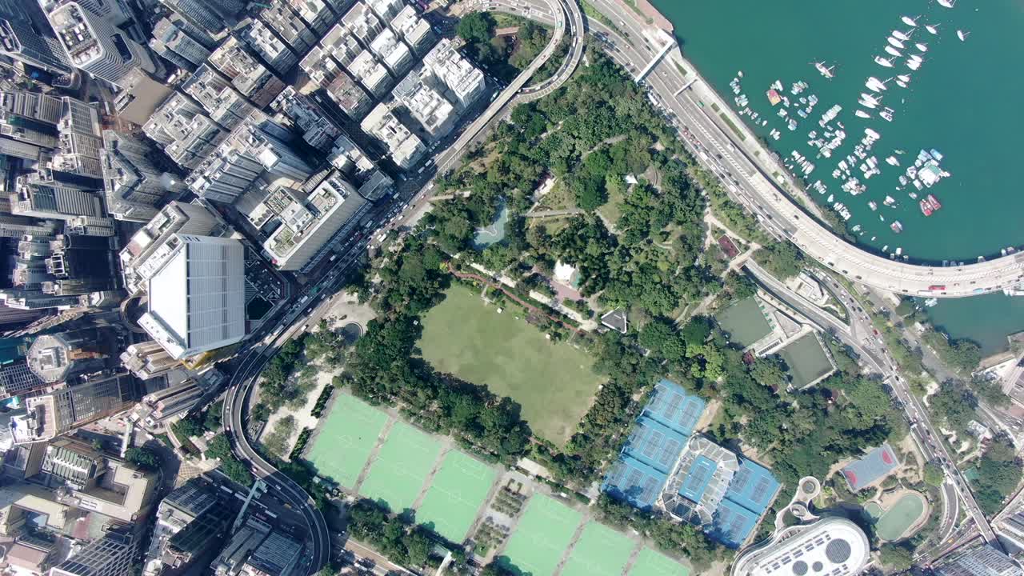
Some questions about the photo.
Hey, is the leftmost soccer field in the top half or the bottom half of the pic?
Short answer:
bottom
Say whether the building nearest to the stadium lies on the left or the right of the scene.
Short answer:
right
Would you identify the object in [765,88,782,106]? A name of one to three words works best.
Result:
ship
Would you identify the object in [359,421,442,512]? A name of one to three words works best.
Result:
soccer field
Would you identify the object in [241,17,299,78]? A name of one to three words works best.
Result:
building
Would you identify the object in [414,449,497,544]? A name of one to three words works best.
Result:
soccer field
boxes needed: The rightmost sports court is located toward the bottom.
[840,445,899,490]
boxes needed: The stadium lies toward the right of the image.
[660,433,740,526]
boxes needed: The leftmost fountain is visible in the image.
[342,318,365,341]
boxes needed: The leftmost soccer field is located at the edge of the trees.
[305,392,388,489]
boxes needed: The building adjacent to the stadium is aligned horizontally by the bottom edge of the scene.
[726,511,871,576]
